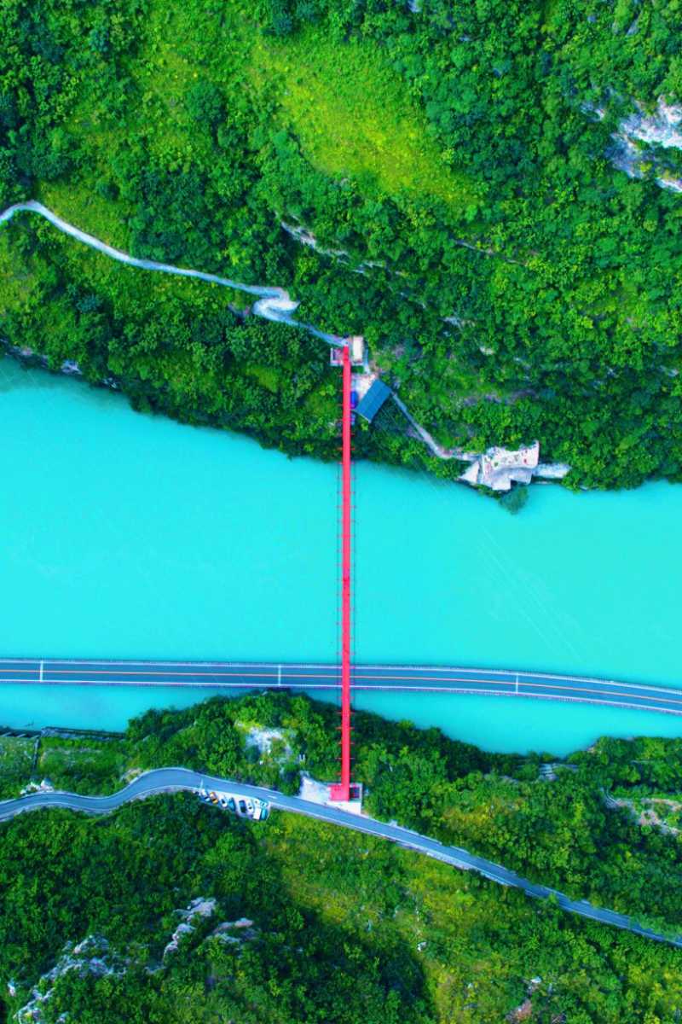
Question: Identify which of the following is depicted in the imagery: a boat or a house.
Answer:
house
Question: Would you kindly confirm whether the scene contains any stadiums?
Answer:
No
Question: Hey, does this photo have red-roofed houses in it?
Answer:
No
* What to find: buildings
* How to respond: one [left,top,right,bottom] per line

[353,337,363,362]
[354,380,392,422]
